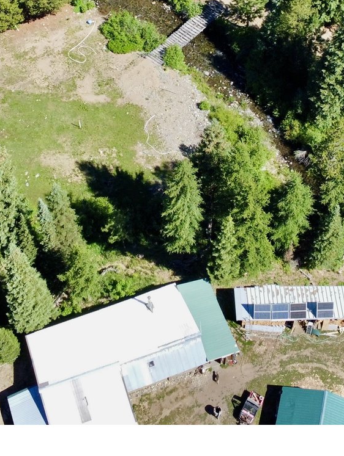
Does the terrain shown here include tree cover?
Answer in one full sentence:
Yes, the picture does contain tree cover.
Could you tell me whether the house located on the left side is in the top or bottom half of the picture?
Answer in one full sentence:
You can find the house located on the left side in the bottom half.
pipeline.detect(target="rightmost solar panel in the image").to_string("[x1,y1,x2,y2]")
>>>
[316,298,334,317]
